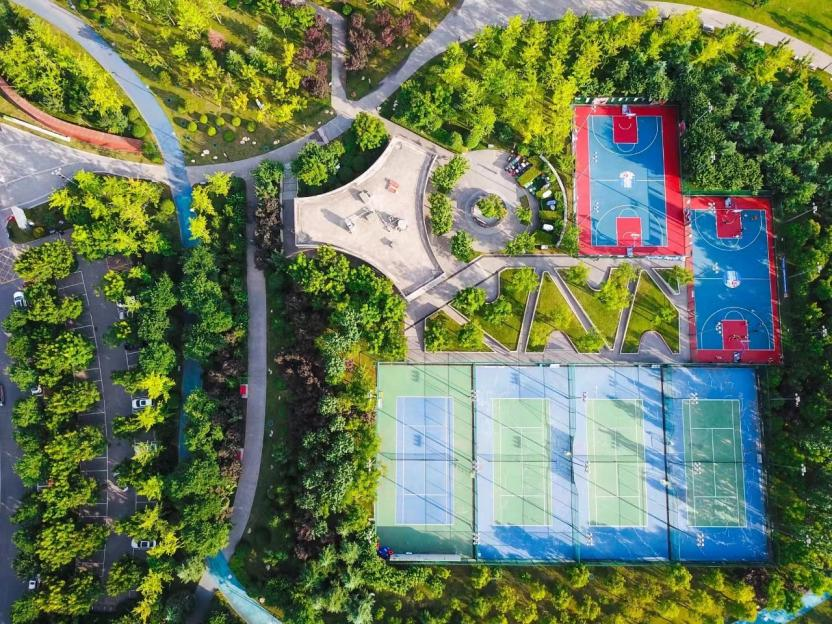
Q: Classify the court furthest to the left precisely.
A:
tennis court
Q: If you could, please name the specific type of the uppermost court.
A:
basketball court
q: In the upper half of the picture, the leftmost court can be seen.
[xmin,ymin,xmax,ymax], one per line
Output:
[574,106,686,256]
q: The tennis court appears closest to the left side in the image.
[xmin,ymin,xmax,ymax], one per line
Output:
[375,366,473,561]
